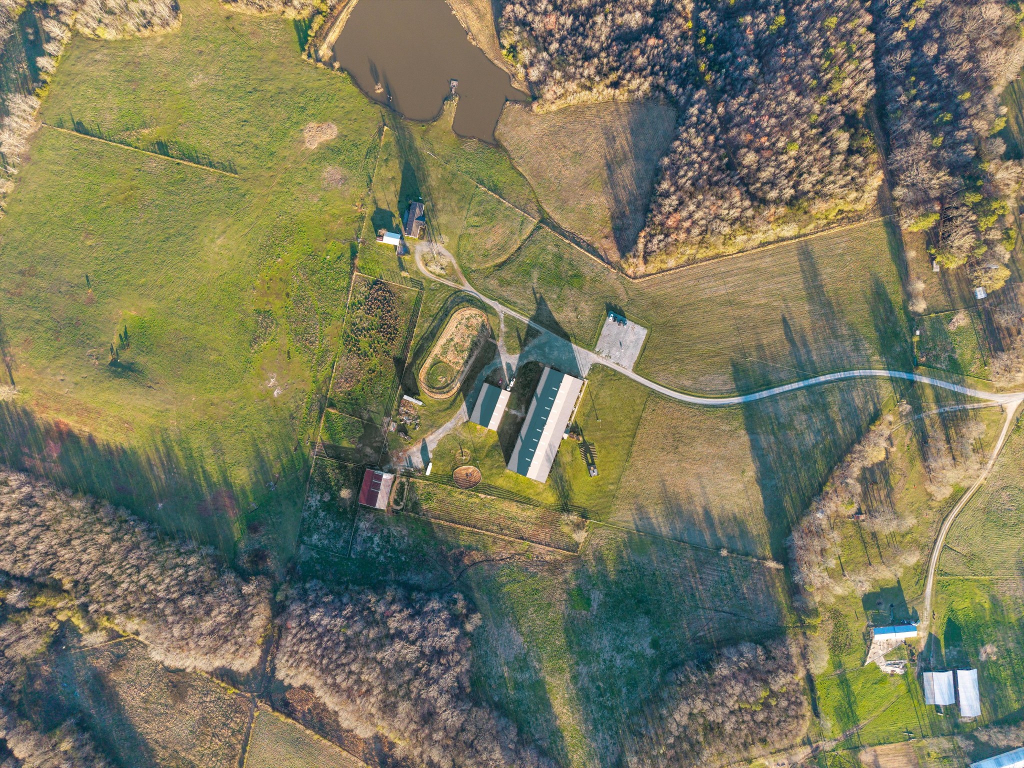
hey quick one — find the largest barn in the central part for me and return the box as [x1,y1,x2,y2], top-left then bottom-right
[507,367,584,483]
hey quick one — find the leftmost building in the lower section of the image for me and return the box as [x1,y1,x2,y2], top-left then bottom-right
[359,469,394,509]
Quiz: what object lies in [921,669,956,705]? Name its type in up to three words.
shed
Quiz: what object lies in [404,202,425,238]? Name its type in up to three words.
house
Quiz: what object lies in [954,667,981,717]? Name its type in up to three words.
shed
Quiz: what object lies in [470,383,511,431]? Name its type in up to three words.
barn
